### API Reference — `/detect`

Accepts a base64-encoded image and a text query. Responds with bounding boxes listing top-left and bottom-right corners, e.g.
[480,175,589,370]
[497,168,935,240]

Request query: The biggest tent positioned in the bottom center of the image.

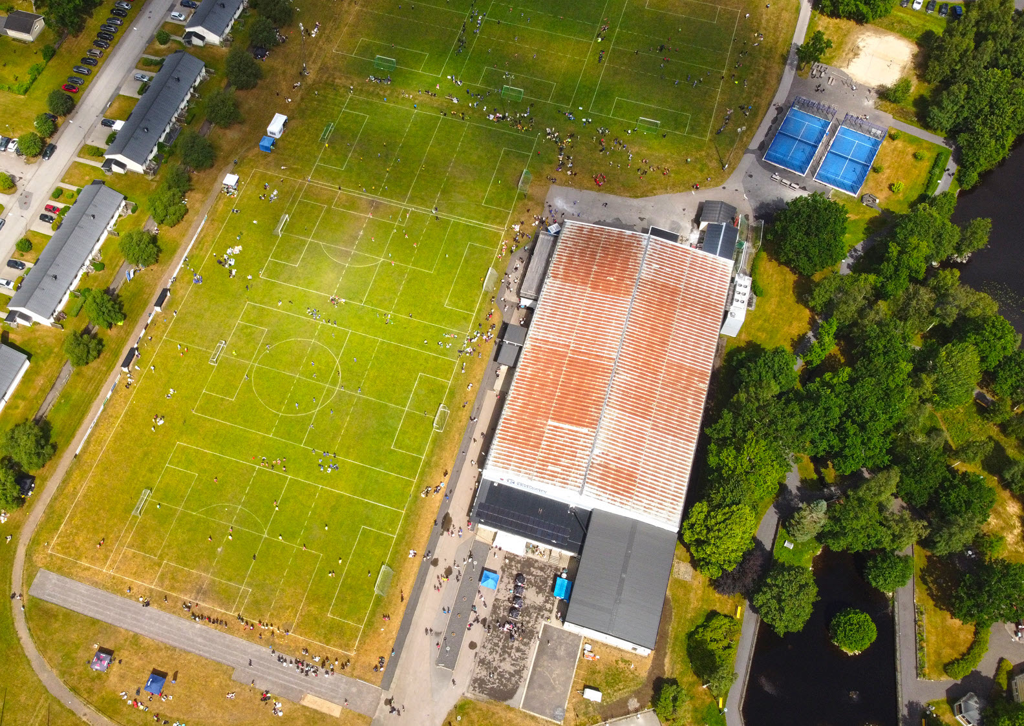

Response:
[493,531,527,557]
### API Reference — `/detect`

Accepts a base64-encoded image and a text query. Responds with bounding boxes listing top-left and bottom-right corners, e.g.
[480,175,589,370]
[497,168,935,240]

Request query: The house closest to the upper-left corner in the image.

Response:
[4,10,43,39]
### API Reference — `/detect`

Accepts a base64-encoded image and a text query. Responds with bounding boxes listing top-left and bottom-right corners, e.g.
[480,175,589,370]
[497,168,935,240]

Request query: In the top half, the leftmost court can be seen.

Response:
[763,94,834,177]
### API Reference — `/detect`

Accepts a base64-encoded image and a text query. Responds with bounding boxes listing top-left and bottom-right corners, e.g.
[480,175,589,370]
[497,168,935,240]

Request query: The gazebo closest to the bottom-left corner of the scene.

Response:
[90,652,116,674]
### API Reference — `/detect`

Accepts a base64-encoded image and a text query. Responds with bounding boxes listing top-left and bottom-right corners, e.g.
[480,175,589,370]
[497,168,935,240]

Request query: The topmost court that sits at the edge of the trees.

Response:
[848,28,915,85]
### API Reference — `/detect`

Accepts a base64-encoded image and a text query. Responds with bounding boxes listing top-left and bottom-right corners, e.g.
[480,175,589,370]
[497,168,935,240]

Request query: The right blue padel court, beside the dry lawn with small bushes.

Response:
[812,112,882,196]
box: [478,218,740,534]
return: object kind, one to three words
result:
building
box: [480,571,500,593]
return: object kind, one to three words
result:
gazebo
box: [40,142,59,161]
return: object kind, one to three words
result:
car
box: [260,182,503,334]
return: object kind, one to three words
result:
soccer field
